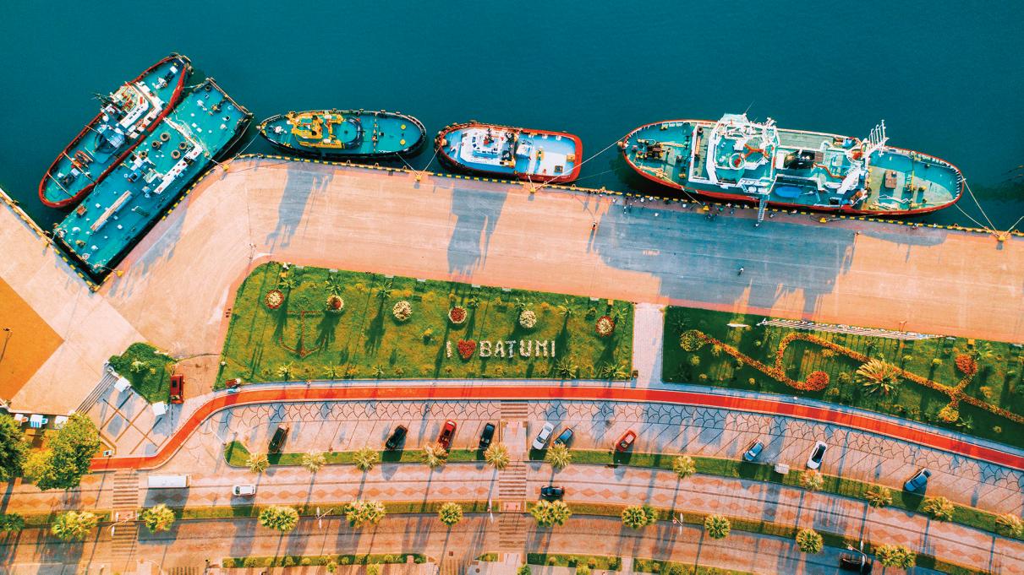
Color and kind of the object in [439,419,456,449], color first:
red car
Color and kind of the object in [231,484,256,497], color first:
white vehicle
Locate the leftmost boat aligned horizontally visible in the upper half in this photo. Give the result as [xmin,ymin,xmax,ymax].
[257,108,427,161]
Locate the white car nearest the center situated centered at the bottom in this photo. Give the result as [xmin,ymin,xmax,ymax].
[532,422,554,451]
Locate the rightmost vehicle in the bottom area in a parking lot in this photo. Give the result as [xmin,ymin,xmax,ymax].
[902,469,931,493]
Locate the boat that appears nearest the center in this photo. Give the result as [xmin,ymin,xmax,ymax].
[435,121,583,184]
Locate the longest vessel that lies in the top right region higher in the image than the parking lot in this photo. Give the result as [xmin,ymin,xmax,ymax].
[615,90,965,214]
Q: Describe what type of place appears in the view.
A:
port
